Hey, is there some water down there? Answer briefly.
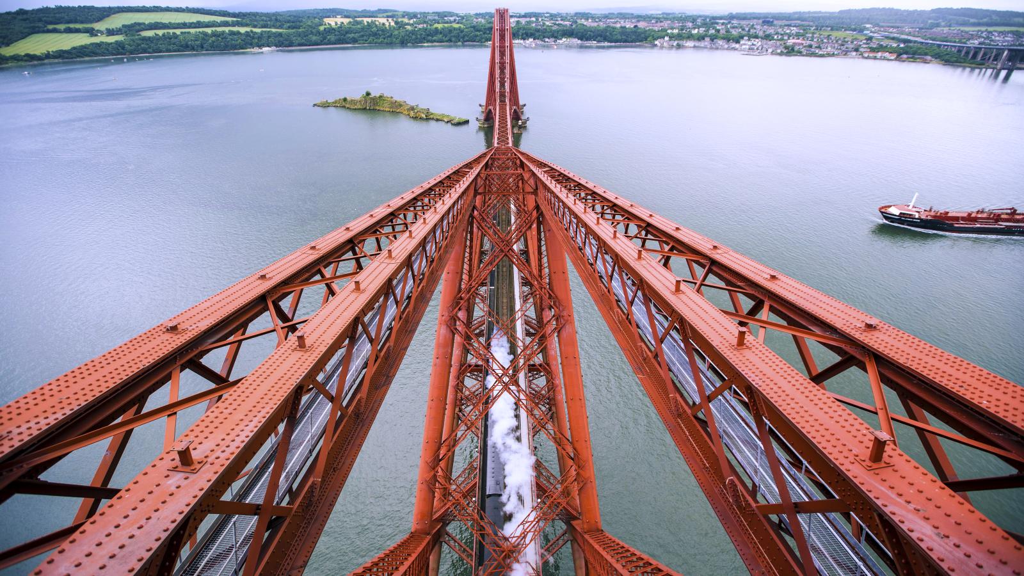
Yes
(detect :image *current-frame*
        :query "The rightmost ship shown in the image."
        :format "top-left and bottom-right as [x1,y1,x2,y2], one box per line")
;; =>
[882,192,1024,240]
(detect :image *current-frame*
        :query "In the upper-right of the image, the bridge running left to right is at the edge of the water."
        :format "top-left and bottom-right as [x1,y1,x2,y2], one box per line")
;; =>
[884,37,1024,71]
